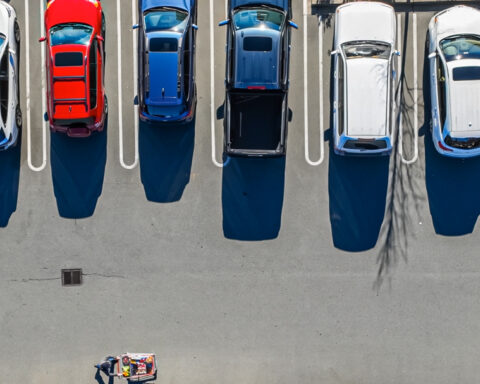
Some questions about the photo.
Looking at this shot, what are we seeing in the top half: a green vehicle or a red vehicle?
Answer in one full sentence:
Visible in the top half is a red vehicle.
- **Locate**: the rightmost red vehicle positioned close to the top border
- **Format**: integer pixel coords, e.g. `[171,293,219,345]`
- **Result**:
[38,0,104,139]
